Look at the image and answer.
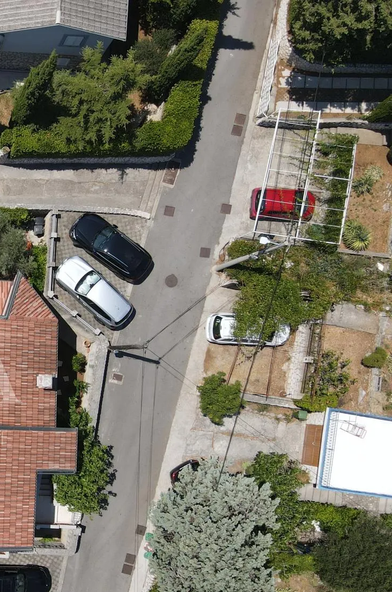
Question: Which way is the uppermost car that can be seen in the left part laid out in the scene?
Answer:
at an angle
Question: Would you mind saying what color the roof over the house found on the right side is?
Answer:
white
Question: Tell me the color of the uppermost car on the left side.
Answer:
black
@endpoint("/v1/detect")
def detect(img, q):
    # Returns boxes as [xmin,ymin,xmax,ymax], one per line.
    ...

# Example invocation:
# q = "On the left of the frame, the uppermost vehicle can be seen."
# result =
[66,210,159,286]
